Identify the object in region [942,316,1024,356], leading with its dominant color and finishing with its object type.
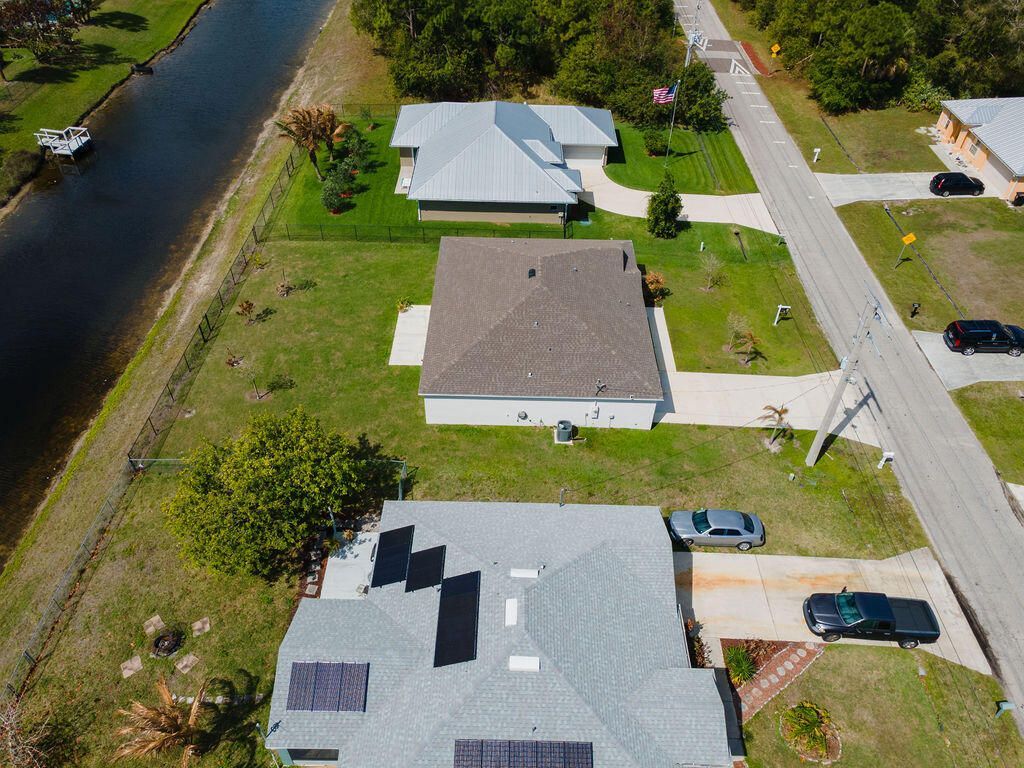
black car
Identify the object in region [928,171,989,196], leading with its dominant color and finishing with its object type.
black car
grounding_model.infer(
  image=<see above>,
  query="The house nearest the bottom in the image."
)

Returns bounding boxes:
[264,492,732,768]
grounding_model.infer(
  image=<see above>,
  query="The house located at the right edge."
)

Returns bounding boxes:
[940,99,1024,198]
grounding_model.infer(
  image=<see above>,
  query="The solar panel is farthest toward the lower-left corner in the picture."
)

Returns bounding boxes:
[285,659,370,712]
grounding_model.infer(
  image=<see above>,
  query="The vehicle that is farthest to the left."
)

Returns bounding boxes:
[669,505,767,554]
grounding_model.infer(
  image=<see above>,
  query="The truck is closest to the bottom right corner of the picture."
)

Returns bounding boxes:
[797,580,941,644]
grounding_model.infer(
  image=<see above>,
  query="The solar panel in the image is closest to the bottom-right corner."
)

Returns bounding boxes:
[453,737,594,768]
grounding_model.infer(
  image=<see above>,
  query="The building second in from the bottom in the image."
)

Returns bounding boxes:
[416,236,663,428]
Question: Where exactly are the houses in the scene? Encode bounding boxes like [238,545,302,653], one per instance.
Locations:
[264,492,732,768]
[388,100,617,227]
[416,236,663,428]
[940,99,1024,198]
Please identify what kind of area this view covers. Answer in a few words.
residential area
